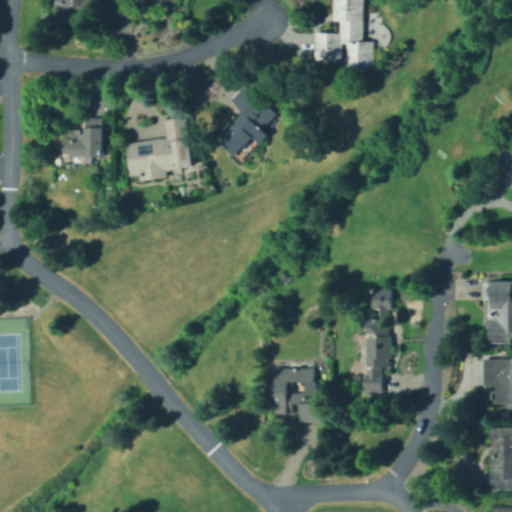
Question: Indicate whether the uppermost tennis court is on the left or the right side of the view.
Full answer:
You can find the uppermost tennis court on the left side of the picture.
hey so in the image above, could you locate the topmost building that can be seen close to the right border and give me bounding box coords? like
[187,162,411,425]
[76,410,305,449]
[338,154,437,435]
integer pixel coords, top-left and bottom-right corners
[484,281,512,346]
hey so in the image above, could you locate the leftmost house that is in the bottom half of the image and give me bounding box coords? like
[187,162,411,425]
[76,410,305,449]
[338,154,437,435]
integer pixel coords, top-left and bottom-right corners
[273,368,316,415]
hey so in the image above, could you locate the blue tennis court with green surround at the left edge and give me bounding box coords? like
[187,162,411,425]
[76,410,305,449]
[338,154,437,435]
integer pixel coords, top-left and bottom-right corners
[0,318,31,407]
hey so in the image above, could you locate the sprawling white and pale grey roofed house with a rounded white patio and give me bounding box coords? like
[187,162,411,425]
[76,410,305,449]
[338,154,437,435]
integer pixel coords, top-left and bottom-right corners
[315,0,375,65]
